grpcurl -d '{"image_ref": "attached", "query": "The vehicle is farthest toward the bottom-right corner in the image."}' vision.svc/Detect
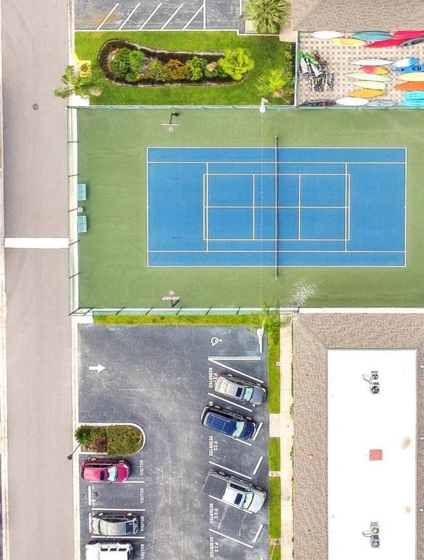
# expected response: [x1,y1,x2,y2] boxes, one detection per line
[201,470,267,512]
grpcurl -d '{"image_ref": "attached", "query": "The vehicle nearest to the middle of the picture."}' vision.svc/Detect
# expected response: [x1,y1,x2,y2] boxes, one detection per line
[214,374,267,407]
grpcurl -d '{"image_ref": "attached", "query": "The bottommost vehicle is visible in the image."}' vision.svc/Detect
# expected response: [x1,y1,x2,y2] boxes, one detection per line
[86,540,134,560]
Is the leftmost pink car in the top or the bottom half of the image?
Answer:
bottom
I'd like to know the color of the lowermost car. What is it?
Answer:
white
